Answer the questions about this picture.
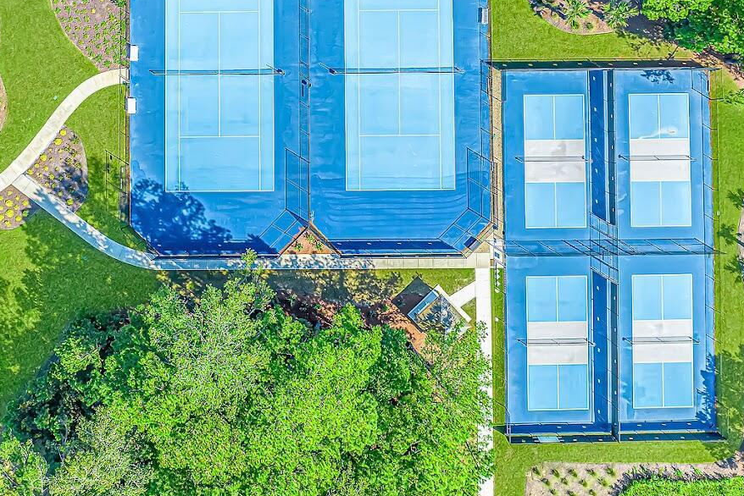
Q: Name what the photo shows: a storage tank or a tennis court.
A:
tennis court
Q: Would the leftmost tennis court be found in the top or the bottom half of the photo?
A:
top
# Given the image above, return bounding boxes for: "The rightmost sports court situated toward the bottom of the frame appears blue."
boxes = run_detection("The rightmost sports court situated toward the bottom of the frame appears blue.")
[608,250,717,434]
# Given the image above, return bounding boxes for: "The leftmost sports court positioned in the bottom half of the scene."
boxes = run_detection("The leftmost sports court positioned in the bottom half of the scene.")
[505,251,609,435]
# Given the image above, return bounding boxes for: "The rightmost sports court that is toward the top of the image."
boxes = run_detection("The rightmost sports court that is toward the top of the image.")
[607,68,713,250]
